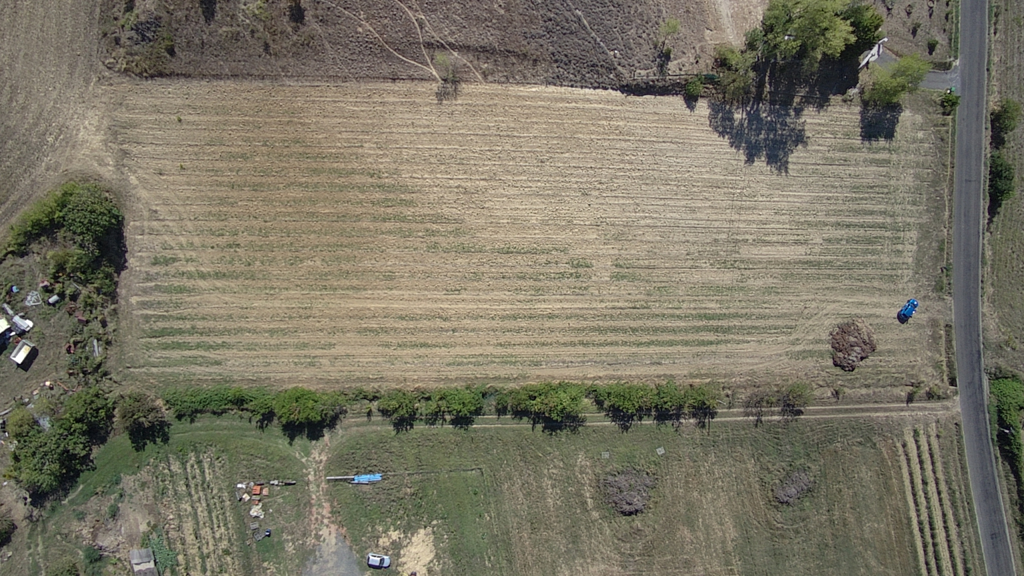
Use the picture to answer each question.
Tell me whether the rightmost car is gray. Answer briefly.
No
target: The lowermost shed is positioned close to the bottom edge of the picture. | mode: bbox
[130,546,160,576]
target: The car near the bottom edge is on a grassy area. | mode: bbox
[368,554,391,567]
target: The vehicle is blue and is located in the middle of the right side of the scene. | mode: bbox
[897,298,917,323]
